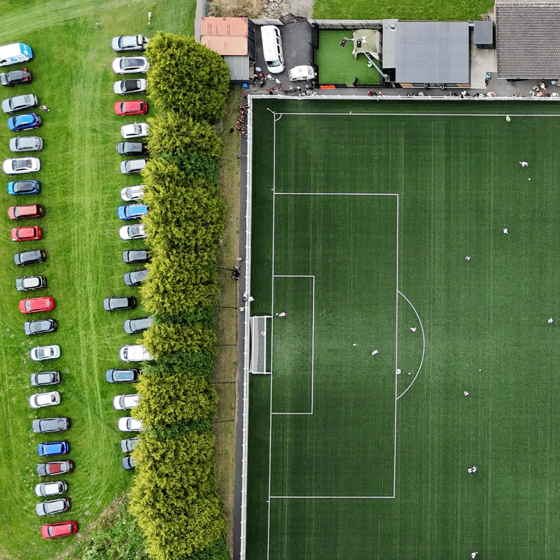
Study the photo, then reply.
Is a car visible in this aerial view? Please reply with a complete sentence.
Yes, the picture does show a car.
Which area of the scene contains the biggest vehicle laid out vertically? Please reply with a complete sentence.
You can find the biggest vehicle laid out vertically in the top area of the picture.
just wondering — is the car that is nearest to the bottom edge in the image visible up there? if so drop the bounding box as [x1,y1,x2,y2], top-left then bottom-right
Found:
[43,521,79,539]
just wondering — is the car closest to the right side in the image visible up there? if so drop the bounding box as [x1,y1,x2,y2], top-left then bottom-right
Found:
[288,66,315,83]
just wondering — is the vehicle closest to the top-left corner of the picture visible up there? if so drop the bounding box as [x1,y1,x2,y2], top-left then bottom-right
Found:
[0,43,37,65]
